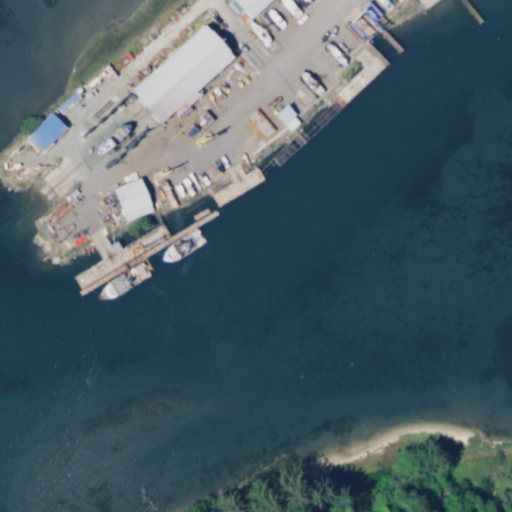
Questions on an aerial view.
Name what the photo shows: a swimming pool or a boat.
boat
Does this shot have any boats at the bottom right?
No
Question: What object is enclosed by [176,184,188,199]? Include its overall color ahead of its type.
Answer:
white boat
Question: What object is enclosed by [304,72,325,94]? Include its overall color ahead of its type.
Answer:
white boat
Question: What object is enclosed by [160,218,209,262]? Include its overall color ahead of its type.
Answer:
white ship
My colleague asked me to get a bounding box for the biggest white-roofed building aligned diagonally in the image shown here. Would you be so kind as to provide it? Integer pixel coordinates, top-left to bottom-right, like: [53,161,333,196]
[132,25,236,124]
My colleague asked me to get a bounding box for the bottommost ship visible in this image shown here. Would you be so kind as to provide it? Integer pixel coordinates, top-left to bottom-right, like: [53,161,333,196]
[100,259,154,298]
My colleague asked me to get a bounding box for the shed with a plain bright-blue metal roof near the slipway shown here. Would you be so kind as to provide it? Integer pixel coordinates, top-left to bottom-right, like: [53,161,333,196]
[29,113,68,152]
